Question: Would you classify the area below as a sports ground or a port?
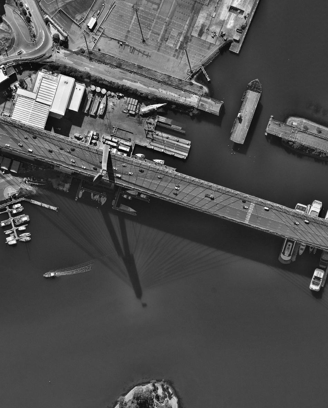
port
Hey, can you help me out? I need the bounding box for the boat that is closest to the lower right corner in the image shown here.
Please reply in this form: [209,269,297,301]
[311,267,327,291]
